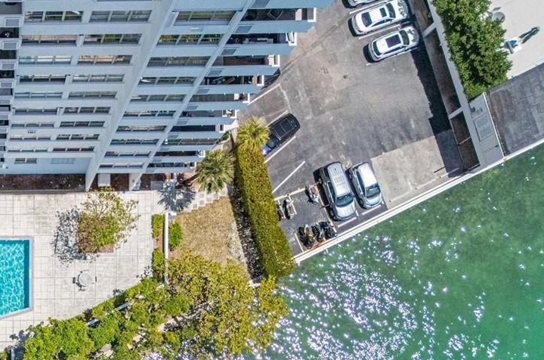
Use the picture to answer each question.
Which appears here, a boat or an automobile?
automobile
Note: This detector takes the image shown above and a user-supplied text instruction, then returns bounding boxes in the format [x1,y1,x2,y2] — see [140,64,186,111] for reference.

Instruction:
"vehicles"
[301,223,315,243]
[263,110,306,161]
[309,181,323,203]
[322,217,339,237]
[350,0,407,35]
[347,158,382,211]
[365,25,420,64]
[317,162,358,221]
[312,220,326,240]
[287,196,299,217]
